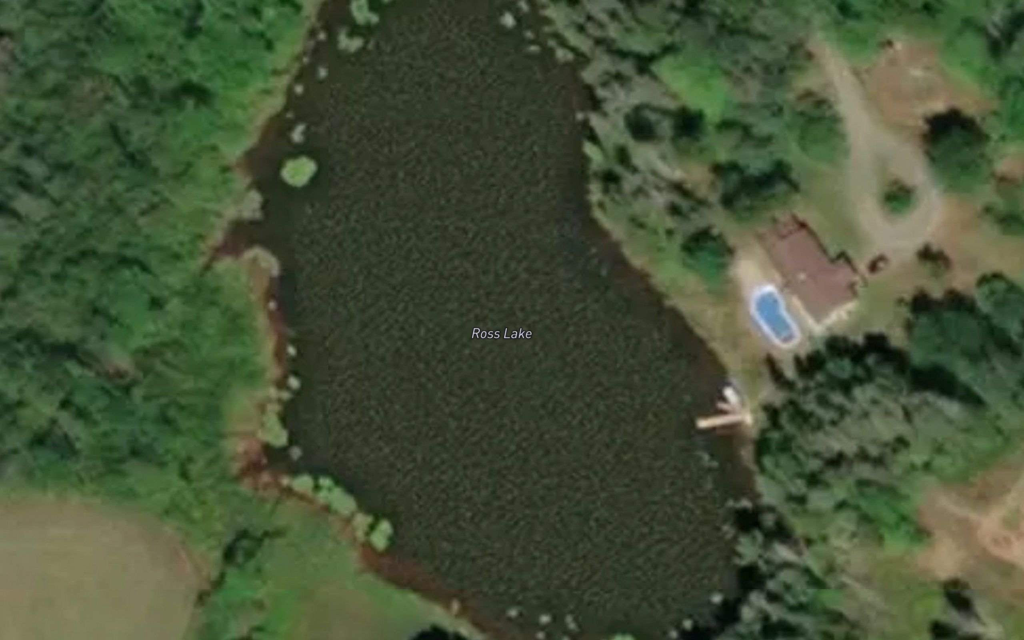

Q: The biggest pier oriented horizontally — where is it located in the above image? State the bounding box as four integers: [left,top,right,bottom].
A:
[696,408,758,428]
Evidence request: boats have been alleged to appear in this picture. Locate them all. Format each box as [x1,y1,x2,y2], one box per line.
[722,383,739,407]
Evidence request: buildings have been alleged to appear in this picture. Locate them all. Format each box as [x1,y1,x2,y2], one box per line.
[760,221,857,323]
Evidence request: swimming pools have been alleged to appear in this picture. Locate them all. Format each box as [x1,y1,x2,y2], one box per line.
[750,284,801,348]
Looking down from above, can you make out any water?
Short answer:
Yes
